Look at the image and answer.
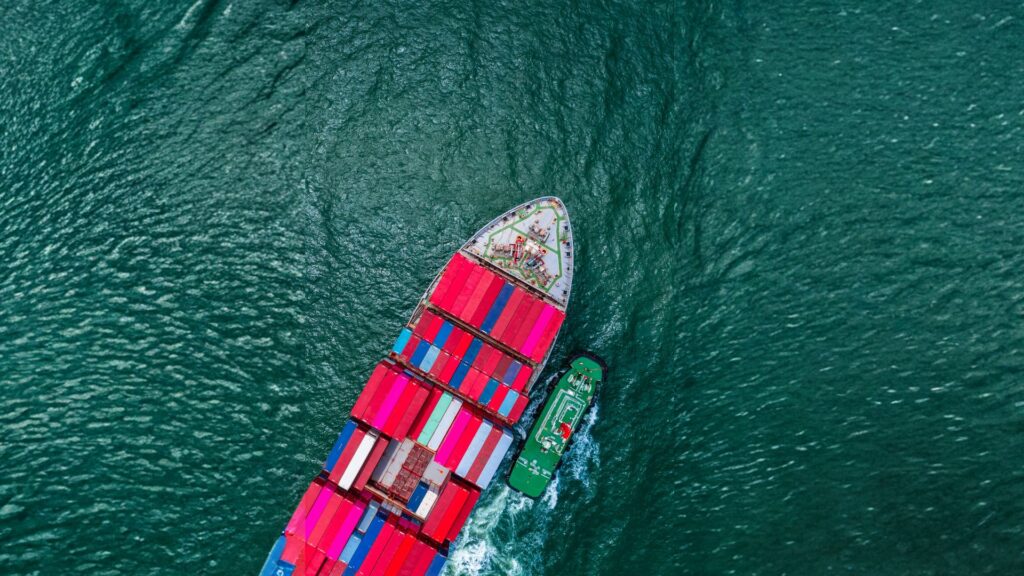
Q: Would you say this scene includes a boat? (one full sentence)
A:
Yes, the picture does show a boat.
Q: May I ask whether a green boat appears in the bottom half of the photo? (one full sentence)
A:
Yes, looking in the bottom half of the photo, one can make out a green boat.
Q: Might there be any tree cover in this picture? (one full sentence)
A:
No, the picture contains no tree cover.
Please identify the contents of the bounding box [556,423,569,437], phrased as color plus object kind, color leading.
red boat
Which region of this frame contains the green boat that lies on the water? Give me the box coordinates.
[505,349,608,499]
